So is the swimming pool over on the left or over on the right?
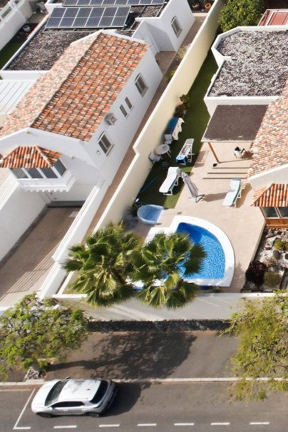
right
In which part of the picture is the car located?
bottom left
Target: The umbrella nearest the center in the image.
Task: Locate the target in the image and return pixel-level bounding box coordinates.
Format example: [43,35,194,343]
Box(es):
[170,160,202,203]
